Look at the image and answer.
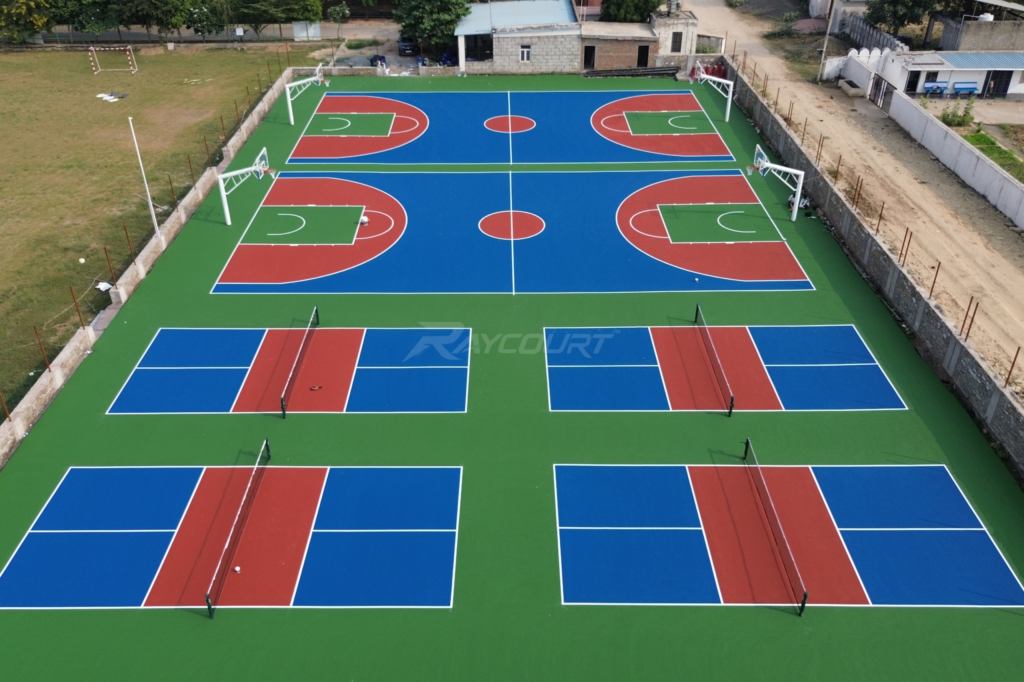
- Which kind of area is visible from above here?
sports ground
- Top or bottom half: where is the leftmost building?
top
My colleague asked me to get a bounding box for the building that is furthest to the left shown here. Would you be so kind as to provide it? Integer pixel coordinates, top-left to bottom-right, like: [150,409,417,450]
[454,0,582,73]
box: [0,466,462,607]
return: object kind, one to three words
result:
sports court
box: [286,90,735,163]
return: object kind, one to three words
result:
basketball court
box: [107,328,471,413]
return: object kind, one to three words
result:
sports court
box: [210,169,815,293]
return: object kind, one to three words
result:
basketball court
